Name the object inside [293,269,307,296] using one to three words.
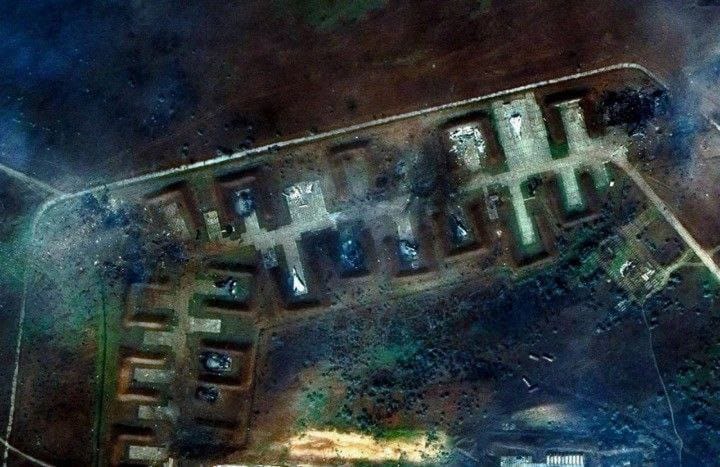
airplane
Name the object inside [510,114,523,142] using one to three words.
airplane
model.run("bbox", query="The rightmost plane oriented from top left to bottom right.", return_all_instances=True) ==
[453,215,472,241]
